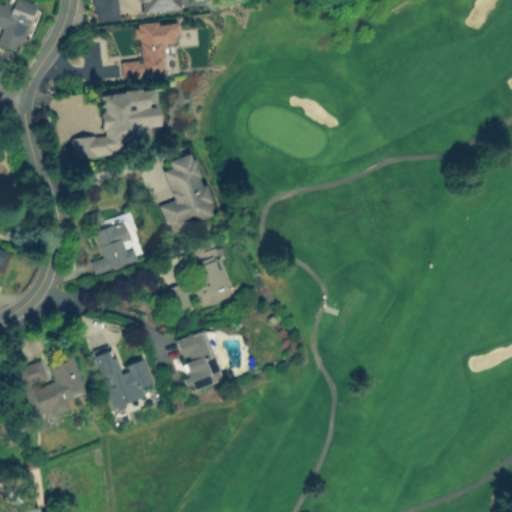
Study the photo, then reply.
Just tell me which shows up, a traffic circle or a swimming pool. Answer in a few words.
swimming pool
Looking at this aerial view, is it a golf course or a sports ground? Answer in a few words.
golf course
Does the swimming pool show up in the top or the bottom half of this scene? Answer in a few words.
bottom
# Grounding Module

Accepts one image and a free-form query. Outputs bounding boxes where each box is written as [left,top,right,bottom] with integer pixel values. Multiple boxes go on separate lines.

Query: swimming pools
[207,330,250,376]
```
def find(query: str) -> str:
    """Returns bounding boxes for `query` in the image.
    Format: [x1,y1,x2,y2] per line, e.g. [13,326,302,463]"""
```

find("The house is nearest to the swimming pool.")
[176,330,224,390]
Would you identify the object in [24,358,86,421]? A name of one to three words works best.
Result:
house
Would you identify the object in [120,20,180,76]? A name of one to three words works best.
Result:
house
